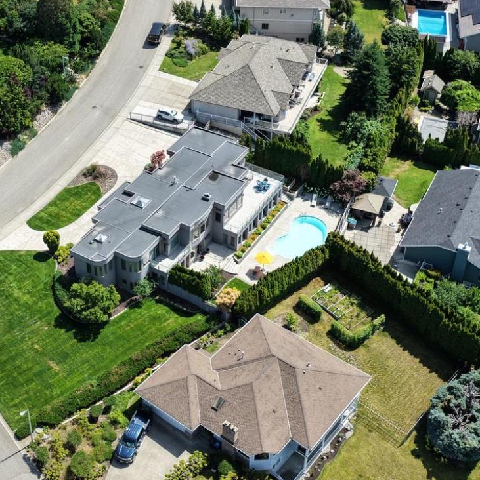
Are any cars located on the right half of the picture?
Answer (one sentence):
No, the scene shows no car on the right half of the picture.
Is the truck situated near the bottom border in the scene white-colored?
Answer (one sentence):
No, the color of the truck situated near the bottom border is blue.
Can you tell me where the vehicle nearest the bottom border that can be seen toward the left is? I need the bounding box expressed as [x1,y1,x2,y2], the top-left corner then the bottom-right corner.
[114,407,153,465]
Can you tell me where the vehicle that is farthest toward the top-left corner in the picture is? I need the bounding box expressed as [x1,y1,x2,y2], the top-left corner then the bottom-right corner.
[148,25,165,43]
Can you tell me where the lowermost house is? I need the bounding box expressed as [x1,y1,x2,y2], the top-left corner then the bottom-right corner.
[133,312,372,480]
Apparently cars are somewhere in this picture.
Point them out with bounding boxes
[152,103,187,126]
[148,25,165,43]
